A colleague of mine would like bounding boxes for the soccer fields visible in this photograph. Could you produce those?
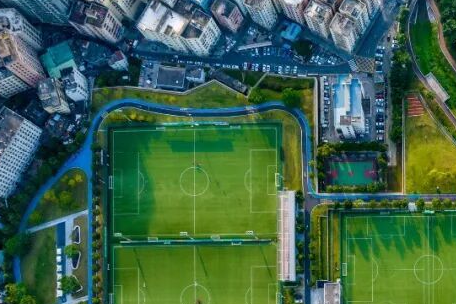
[343,211,456,304]
[111,244,280,304]
[111,126,280,237]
